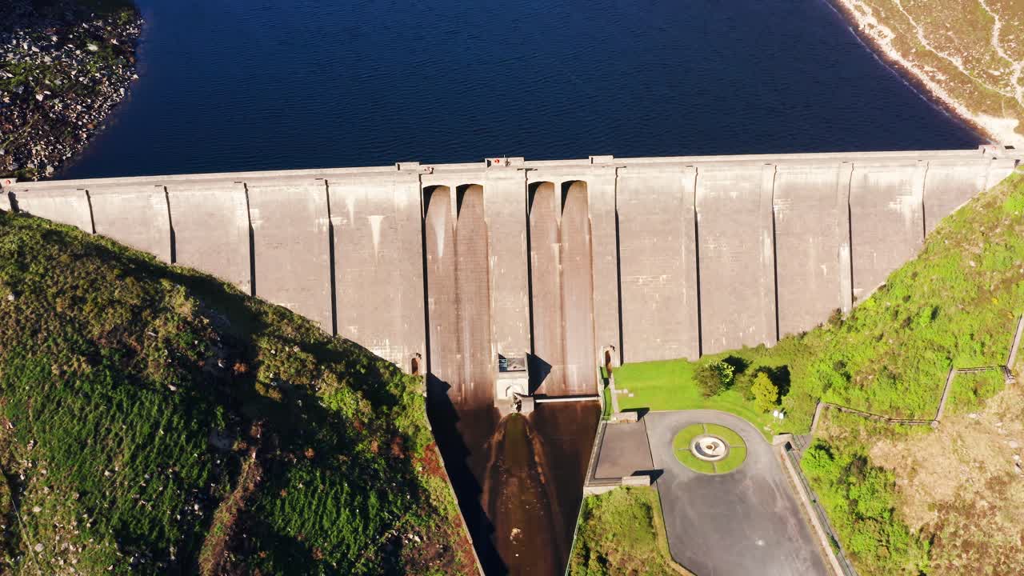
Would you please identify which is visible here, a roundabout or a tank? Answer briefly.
roundabout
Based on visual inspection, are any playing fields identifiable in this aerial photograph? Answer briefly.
No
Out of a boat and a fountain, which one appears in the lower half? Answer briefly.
fountain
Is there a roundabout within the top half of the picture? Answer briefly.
No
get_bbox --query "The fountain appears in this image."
[691,434,728,461]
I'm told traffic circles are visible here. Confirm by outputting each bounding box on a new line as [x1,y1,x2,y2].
[674,423,748,476]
